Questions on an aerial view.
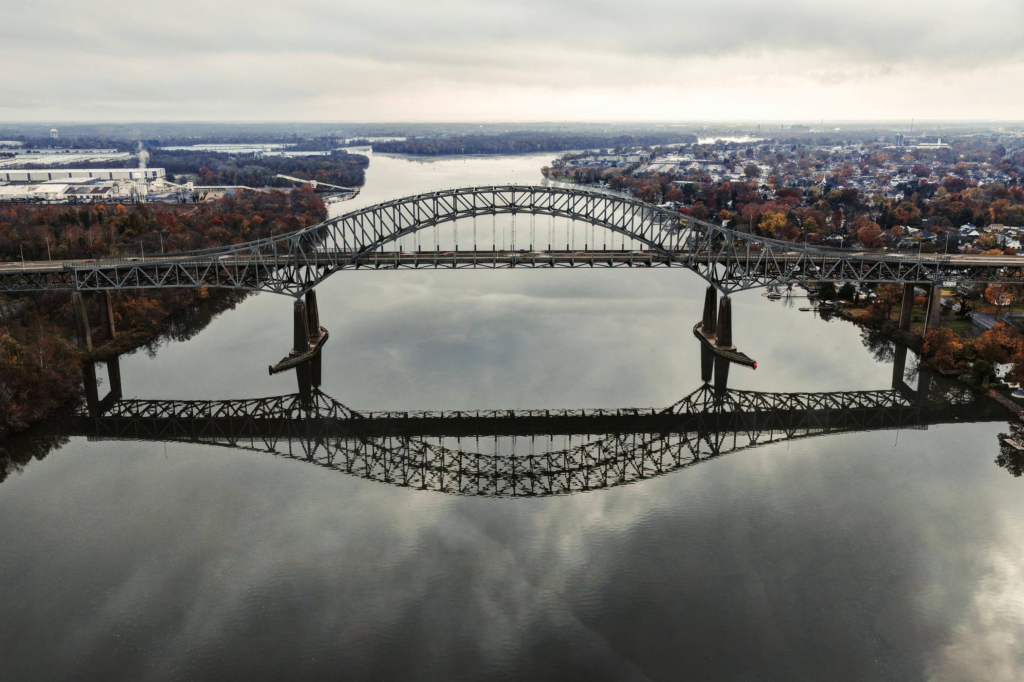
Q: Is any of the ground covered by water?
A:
Yes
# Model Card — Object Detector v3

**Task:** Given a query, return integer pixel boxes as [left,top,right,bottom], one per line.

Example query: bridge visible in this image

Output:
[72,183,942,297]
